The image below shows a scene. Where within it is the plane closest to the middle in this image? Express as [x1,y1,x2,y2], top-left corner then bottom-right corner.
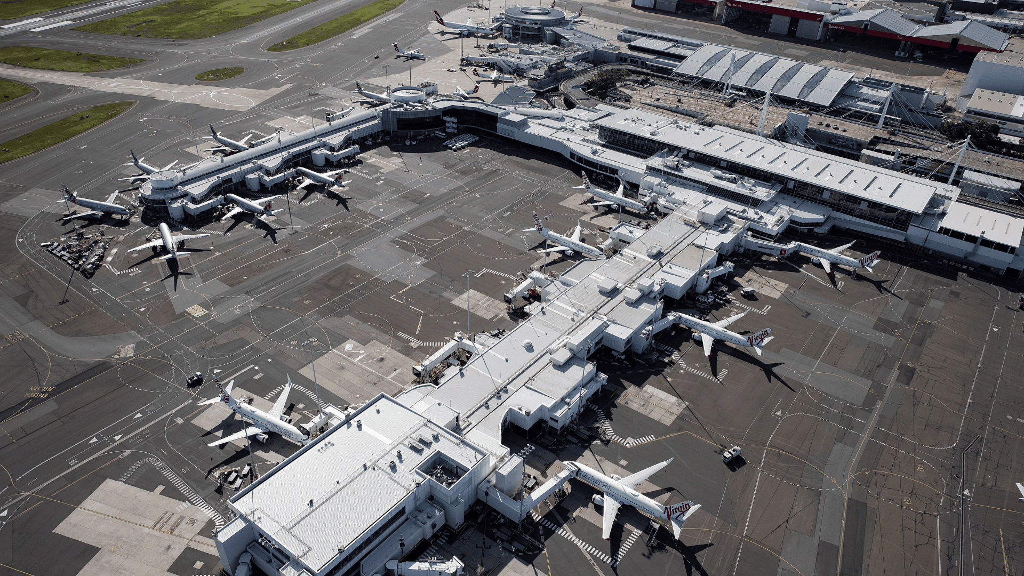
[524,212,605,260]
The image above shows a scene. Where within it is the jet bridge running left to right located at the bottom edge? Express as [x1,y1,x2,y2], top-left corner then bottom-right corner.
[382,548,468,576]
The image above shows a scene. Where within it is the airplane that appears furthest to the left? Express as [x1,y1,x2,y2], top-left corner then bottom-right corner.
[54,184,131,219]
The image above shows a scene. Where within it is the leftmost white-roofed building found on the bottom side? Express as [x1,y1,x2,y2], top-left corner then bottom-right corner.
[215,393,491,576]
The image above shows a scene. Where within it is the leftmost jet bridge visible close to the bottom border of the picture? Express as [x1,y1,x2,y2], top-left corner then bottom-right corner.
[233,543,256,576]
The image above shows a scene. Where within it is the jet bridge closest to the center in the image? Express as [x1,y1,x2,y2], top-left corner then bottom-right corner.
[501,271,556,304]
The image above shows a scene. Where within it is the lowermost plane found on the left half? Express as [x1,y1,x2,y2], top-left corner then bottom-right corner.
[199,373,313,447]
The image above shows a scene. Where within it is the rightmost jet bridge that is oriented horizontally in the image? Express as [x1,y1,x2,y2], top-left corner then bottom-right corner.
[743,234,803,262]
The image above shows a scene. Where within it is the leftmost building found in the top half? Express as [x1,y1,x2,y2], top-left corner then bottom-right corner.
[137,107,383,221]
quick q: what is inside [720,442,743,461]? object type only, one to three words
vehicle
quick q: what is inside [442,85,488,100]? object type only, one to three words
airplane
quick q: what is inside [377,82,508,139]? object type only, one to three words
building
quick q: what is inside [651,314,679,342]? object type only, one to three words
jet bridge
